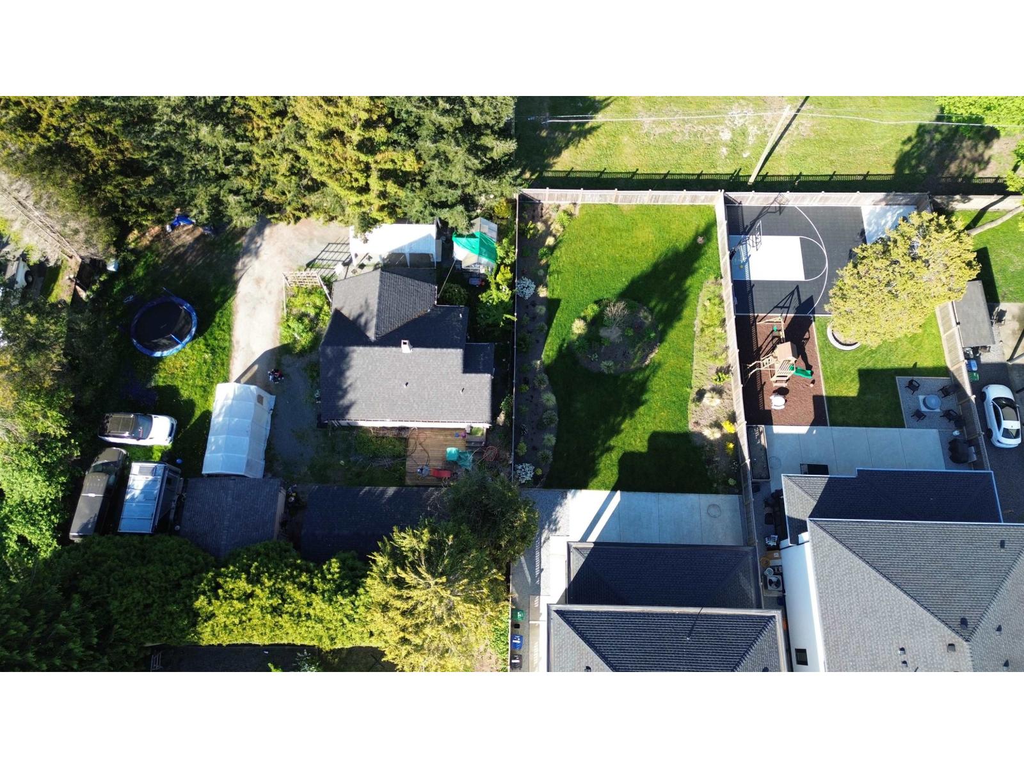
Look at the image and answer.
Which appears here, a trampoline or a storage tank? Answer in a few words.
trampoline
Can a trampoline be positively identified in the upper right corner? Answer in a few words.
No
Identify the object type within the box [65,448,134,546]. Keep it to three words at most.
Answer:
truck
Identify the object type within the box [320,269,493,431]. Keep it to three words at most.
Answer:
house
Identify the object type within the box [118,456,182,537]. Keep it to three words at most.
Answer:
camper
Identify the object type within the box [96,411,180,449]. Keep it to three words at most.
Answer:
car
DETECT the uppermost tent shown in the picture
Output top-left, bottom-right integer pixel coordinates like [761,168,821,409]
[347,220,438,267]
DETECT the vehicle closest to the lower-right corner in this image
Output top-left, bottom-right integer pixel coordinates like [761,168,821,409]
[982,385,1024,449]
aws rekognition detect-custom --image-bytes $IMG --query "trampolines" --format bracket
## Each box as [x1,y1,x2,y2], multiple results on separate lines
[130,283,201,359]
